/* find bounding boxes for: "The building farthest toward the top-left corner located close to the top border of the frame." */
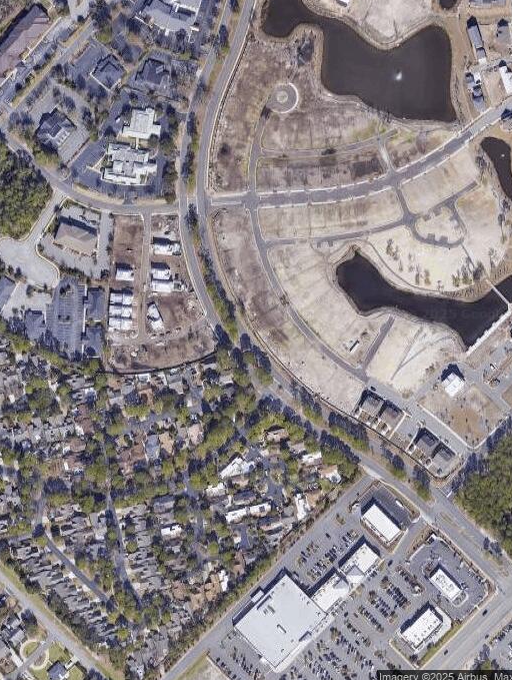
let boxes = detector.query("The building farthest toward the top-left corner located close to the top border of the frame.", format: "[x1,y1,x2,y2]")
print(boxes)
[0,5,50,84]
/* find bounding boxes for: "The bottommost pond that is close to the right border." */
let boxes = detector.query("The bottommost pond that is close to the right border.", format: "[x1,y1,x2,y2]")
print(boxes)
[337,251,512,350]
